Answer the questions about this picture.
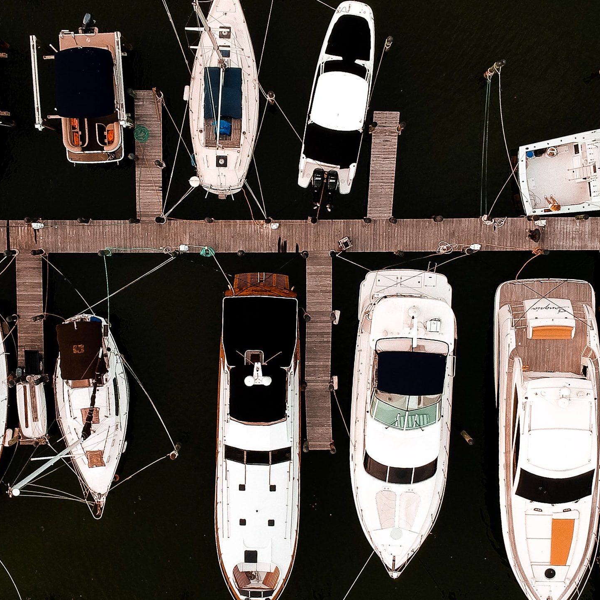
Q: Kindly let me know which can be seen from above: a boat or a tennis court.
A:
boat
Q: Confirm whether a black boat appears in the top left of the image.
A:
Yes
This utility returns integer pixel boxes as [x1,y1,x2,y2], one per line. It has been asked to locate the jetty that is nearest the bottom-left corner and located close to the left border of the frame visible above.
[16,253,48,444]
